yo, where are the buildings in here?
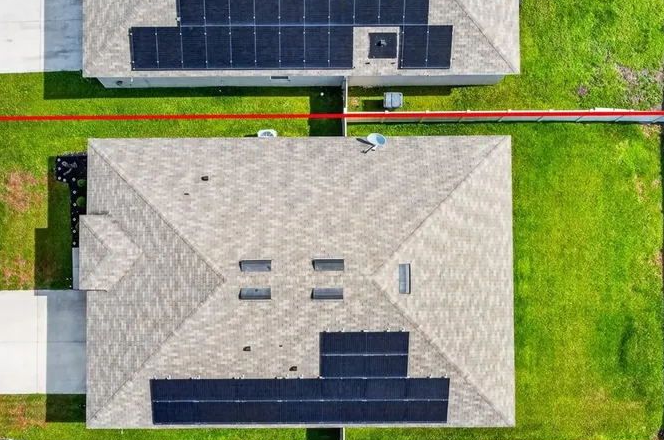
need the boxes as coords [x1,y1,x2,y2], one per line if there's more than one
[79,135,515,428]
[82,0,520,89]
